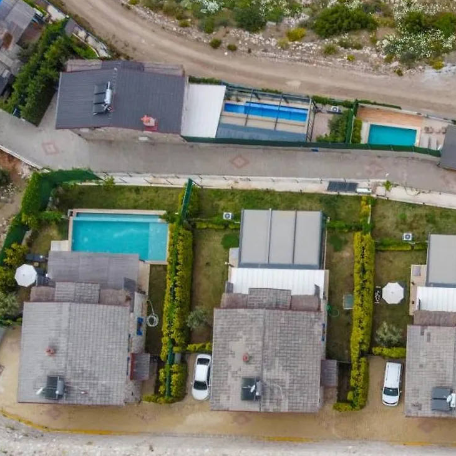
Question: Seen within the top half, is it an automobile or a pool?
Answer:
pool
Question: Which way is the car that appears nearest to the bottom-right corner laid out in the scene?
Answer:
up and down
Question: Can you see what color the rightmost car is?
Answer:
white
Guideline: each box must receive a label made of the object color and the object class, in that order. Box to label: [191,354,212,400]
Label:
white car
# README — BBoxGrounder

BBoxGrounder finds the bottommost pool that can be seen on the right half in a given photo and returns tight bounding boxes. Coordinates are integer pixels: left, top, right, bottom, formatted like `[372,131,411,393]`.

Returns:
[364,122,420,150]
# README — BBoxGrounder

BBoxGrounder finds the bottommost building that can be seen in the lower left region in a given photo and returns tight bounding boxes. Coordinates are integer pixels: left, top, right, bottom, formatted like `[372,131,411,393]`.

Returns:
[18,282,150,406]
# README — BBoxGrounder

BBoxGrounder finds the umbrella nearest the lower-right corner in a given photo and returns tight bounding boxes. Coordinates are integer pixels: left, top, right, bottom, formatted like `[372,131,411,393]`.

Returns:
[382,282,403,303]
